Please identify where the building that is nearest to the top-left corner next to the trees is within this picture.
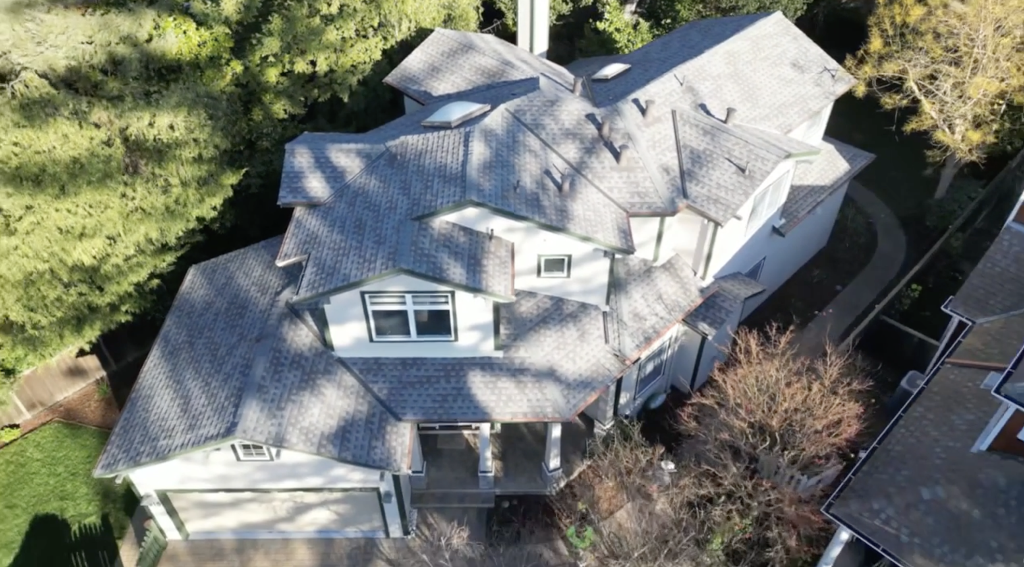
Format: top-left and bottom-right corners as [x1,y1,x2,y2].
[92,0,876,539]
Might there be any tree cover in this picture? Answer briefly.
Yes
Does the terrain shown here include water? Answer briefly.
No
